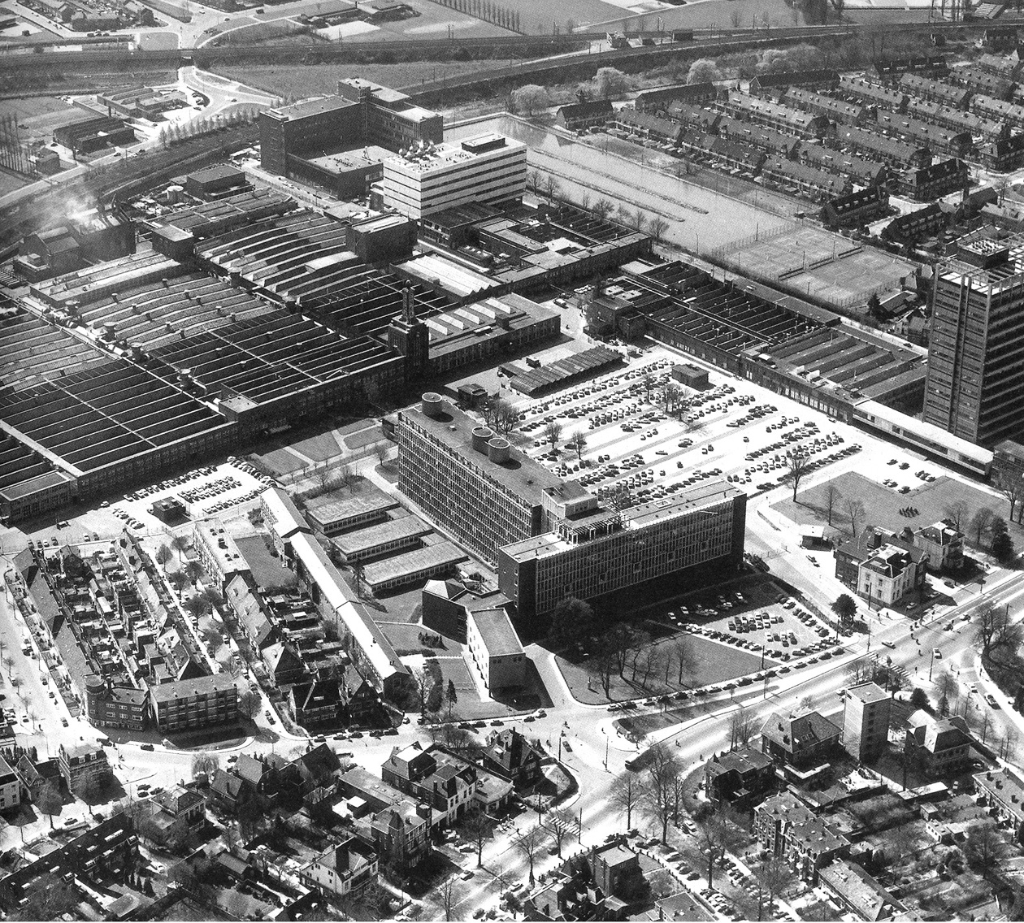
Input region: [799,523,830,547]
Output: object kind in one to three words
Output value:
shed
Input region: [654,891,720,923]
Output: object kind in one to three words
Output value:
house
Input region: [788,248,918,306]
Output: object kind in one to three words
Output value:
sports court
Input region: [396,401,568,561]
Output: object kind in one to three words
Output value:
building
